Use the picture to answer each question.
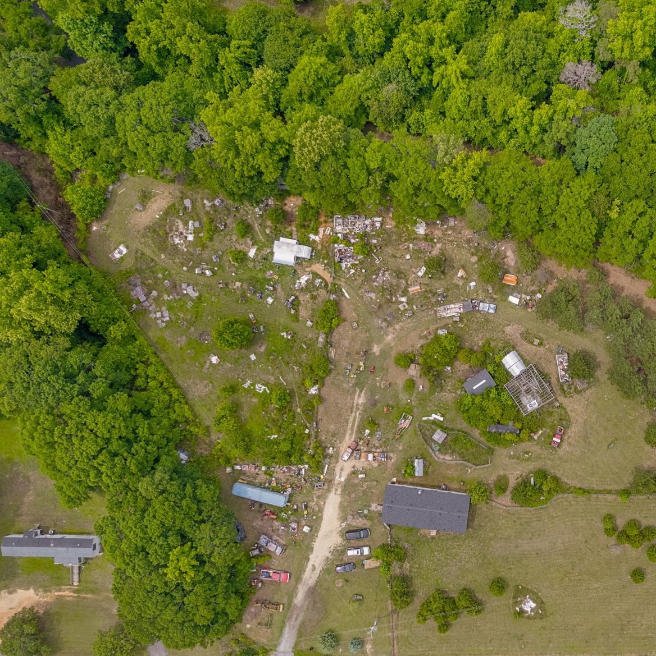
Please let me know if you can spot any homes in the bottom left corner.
Yes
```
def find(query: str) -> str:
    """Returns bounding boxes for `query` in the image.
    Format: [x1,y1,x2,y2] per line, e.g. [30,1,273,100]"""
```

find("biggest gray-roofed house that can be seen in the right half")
[374,483,471,535]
